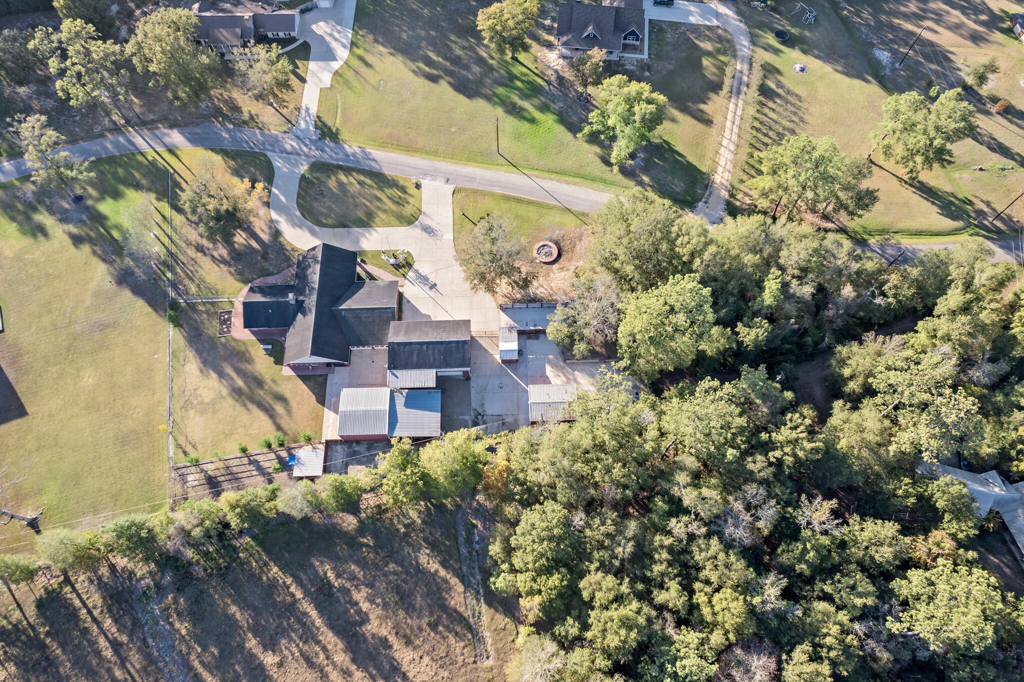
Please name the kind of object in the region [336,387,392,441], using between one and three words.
shed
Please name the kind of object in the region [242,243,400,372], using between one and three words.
house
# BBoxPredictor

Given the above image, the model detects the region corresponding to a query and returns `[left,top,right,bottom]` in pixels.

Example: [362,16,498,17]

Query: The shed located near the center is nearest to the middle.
[499,327,517,365]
